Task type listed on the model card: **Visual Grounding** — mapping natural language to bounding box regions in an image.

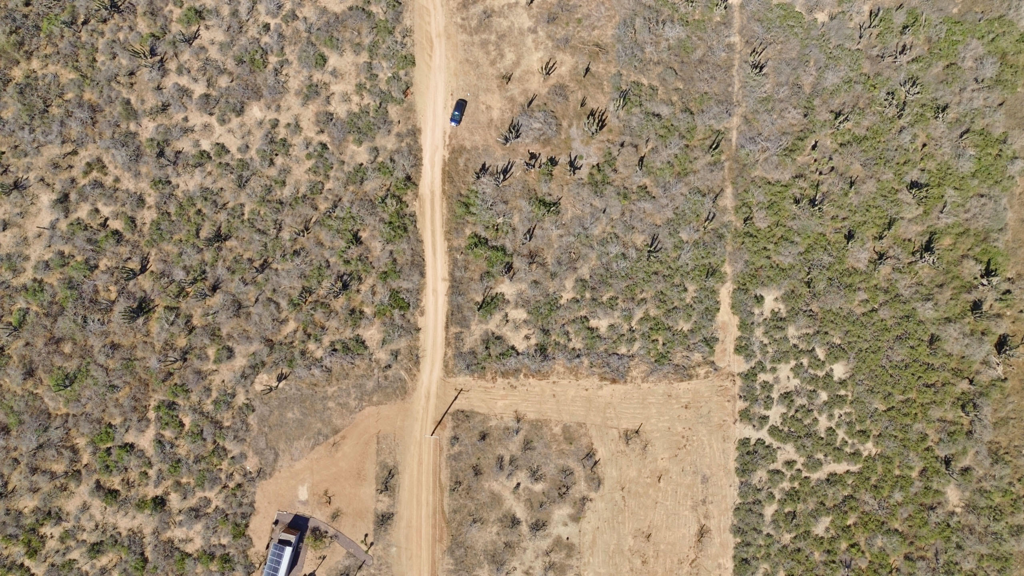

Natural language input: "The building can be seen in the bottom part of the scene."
[263,526,301,576]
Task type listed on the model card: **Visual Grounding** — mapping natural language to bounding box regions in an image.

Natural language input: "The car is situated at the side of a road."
[448,98,466,126]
